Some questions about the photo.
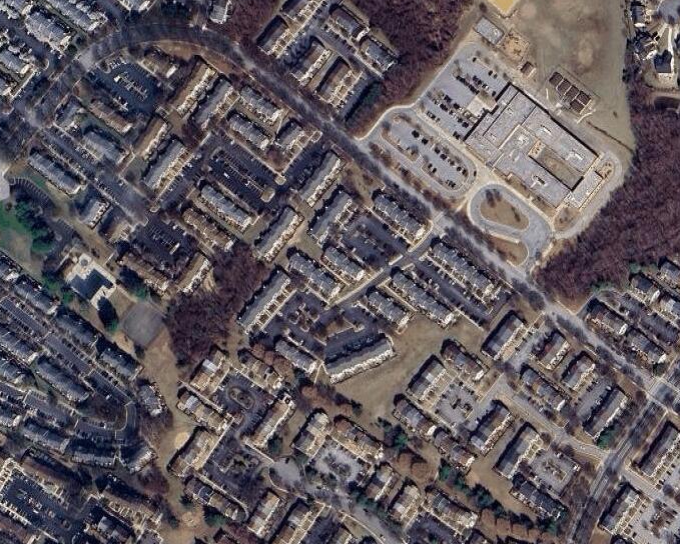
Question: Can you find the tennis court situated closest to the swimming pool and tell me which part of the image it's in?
left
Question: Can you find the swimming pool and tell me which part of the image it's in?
left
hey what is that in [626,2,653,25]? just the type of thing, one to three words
house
